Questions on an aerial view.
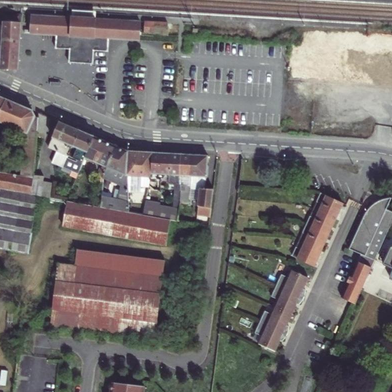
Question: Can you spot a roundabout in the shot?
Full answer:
No, the scene contains no roundabout.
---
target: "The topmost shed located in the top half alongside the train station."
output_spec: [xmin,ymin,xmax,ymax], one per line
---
[143,20,168,36]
